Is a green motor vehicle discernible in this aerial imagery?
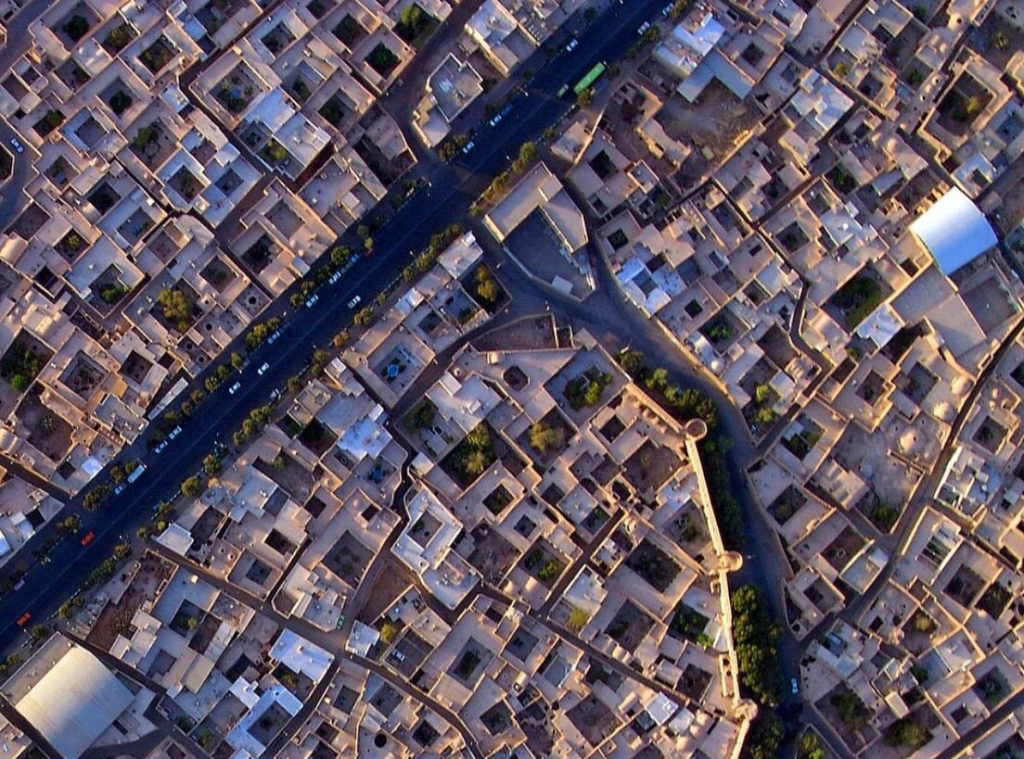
Yes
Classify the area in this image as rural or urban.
urban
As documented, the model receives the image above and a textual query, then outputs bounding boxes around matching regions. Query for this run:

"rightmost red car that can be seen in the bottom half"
[81,532,95,546]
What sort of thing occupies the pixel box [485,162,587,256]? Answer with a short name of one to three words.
building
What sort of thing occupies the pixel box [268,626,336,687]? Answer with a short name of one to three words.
house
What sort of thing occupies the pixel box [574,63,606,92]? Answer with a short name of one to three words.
bus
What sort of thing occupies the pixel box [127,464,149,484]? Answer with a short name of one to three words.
vehicle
